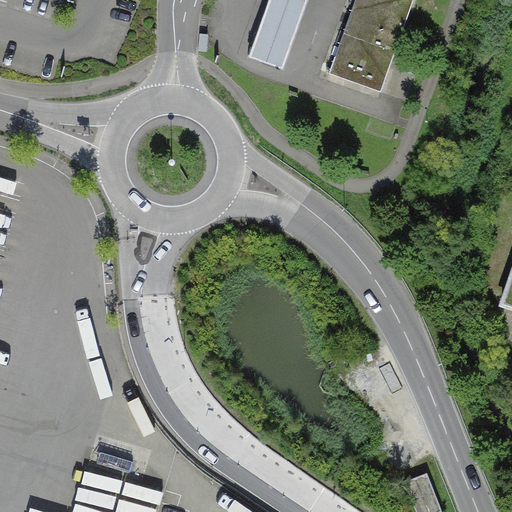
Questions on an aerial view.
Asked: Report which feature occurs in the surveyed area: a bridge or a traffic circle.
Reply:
traffic circle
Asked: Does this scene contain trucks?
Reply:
Yes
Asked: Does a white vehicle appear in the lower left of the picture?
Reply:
Yes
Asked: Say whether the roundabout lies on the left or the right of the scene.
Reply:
left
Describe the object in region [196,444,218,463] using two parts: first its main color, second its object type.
white car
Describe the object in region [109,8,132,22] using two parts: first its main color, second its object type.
gray car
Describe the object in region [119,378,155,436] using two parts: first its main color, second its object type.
white truck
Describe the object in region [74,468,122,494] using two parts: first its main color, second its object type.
white truck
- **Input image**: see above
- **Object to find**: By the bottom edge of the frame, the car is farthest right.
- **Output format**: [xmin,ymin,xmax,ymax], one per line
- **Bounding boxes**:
[466,464,481,488]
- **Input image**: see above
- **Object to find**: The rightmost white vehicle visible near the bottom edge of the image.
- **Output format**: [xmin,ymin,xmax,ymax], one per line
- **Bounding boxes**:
[216,492,251,512]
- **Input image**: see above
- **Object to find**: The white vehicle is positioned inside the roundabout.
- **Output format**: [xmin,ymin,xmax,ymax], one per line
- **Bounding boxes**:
[129,189,151,212]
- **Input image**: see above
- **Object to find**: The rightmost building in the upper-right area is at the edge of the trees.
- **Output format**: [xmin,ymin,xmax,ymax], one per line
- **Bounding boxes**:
[330,0,420,90]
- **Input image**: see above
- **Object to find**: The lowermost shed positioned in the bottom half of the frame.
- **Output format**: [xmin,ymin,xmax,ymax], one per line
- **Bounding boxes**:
[410,474,442,512]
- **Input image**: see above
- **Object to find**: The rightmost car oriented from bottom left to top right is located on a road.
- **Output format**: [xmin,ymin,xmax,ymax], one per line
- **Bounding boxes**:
[152,240,172,261]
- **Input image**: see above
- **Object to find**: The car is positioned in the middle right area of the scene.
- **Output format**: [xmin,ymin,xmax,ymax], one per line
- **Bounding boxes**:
[364,288,382,312]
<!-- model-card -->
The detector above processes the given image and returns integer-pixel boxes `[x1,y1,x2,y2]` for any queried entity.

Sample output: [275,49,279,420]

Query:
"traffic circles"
[96,84,248,236]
